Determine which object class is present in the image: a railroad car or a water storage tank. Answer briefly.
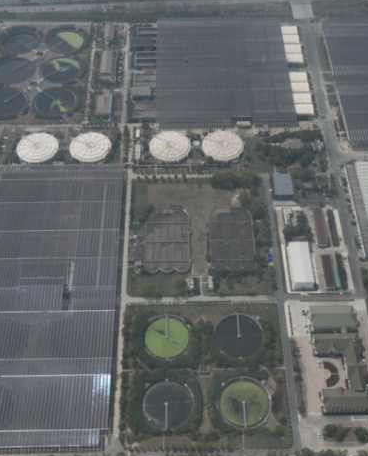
water storage tank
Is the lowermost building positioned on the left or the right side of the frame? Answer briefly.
right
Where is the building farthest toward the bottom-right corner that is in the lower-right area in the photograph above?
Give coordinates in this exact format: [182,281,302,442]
[319,383,368,414]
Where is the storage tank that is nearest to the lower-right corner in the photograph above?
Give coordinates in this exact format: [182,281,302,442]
[217,376,273,430]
